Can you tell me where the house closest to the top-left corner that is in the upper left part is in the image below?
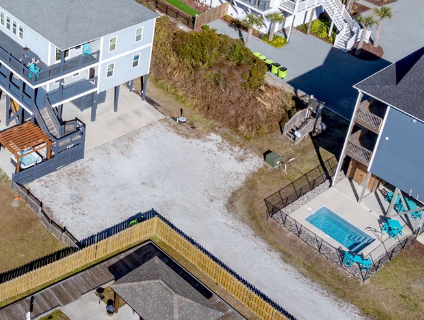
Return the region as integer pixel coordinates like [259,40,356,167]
[0,0,160,170]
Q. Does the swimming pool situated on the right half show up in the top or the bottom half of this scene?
bottom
